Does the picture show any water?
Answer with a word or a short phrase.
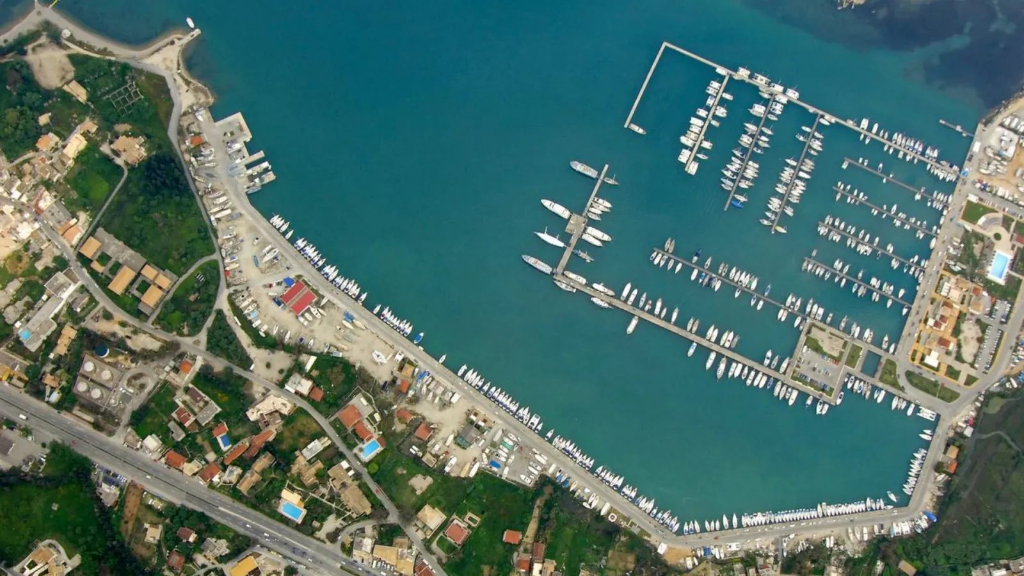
Yes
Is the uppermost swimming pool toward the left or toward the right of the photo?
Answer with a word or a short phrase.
right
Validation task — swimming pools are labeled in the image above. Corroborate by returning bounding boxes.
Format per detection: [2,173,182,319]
[17,326,34,344]
[218,433,231,451]
[464,511,481,527]
[985,249,1012,282]
[352,435,385,463]
[279,499,306,525]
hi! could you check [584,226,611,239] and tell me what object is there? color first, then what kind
white boat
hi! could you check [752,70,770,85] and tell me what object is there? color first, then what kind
white boat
